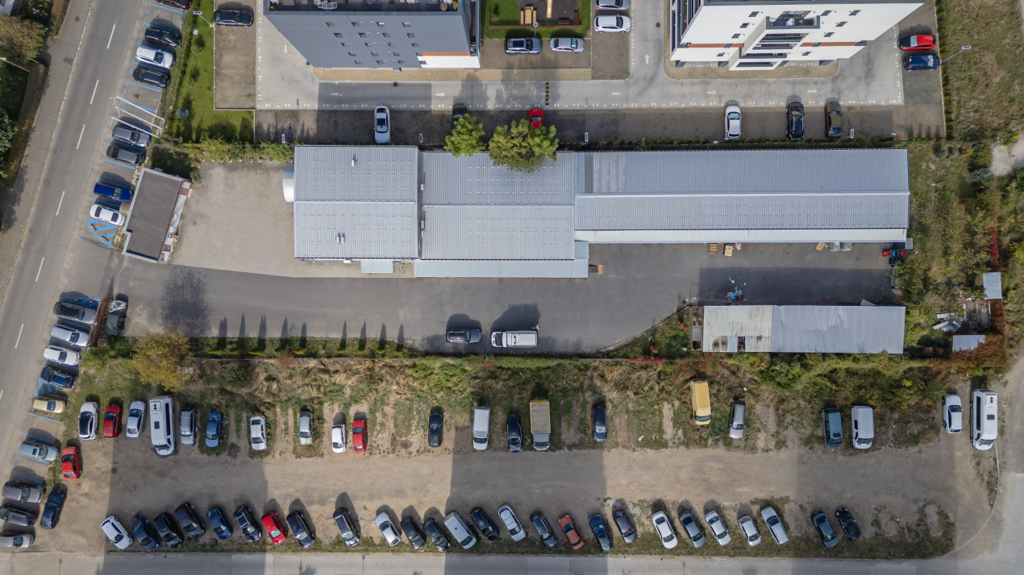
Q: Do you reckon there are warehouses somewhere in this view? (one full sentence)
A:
Yes, the frame does contain a warehouse.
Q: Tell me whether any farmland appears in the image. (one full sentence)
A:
No, farmland can't be seen anywhere here.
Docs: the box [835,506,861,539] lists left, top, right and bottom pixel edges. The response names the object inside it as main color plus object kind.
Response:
black car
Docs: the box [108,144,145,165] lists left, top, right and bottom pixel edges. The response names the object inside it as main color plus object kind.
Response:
black car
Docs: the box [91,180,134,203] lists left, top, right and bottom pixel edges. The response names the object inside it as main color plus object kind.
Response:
blue truck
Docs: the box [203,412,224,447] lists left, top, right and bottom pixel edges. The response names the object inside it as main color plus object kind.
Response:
blue car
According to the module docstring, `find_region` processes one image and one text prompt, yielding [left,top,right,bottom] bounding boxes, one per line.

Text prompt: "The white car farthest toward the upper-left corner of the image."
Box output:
[136,46,174,69]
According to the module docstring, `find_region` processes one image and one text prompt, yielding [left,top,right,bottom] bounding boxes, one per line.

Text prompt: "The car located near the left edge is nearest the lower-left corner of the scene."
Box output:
[0,531,35,551]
